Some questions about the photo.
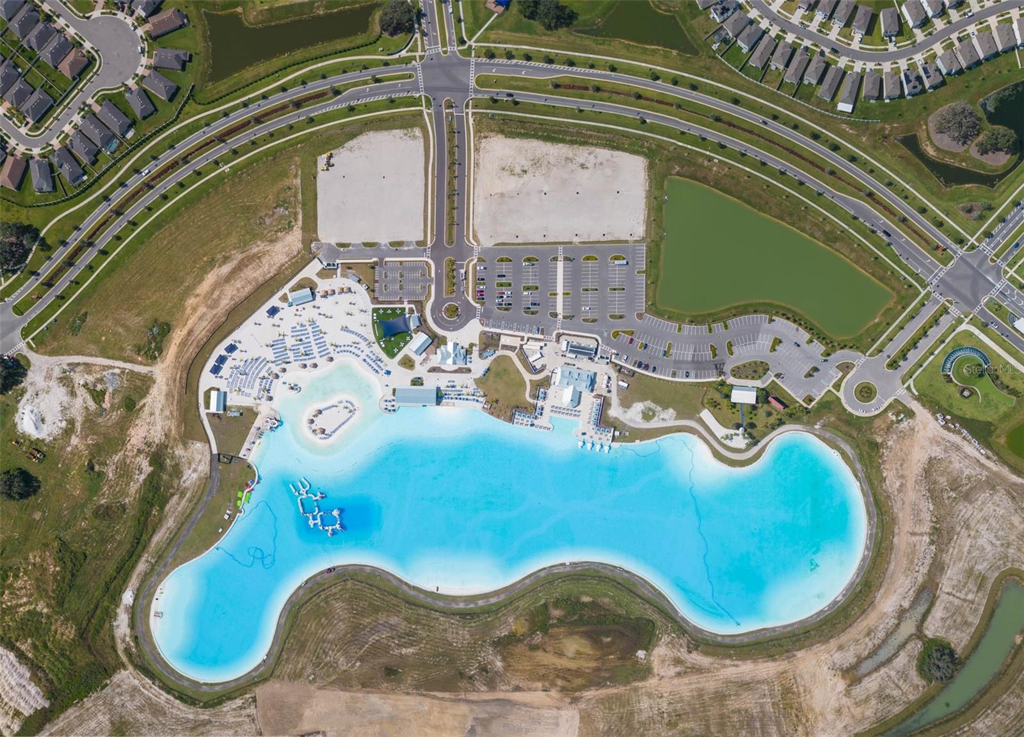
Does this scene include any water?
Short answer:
Yes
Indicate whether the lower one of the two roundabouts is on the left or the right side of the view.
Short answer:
right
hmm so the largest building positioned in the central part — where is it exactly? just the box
[554,366,597,410]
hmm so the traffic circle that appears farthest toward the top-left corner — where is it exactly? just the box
[429,290,478,333]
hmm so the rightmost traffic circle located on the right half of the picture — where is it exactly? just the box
[842,349,905,417]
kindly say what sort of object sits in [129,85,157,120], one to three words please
house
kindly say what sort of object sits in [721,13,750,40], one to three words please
house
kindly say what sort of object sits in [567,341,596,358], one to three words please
building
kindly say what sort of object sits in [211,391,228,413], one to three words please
shed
